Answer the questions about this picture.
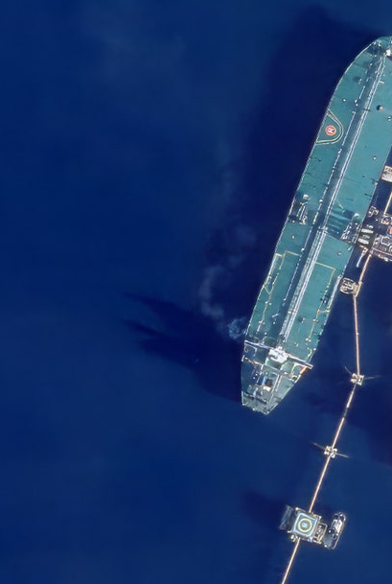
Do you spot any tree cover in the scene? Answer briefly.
No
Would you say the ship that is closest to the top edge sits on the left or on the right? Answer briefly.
right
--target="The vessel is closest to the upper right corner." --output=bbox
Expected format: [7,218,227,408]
[240,35,392,414]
